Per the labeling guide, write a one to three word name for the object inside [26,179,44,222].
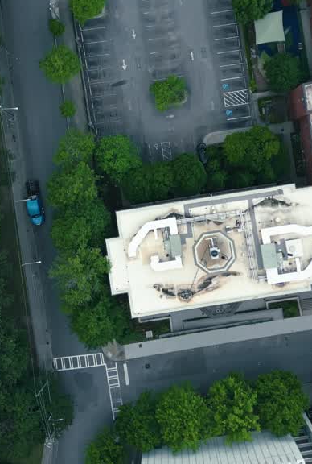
vehicle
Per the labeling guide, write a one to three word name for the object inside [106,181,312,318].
building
